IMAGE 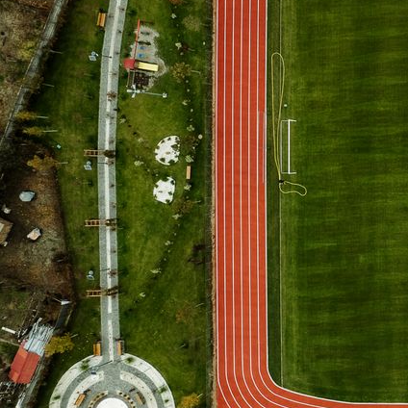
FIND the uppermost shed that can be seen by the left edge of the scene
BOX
[0,218,23,242]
